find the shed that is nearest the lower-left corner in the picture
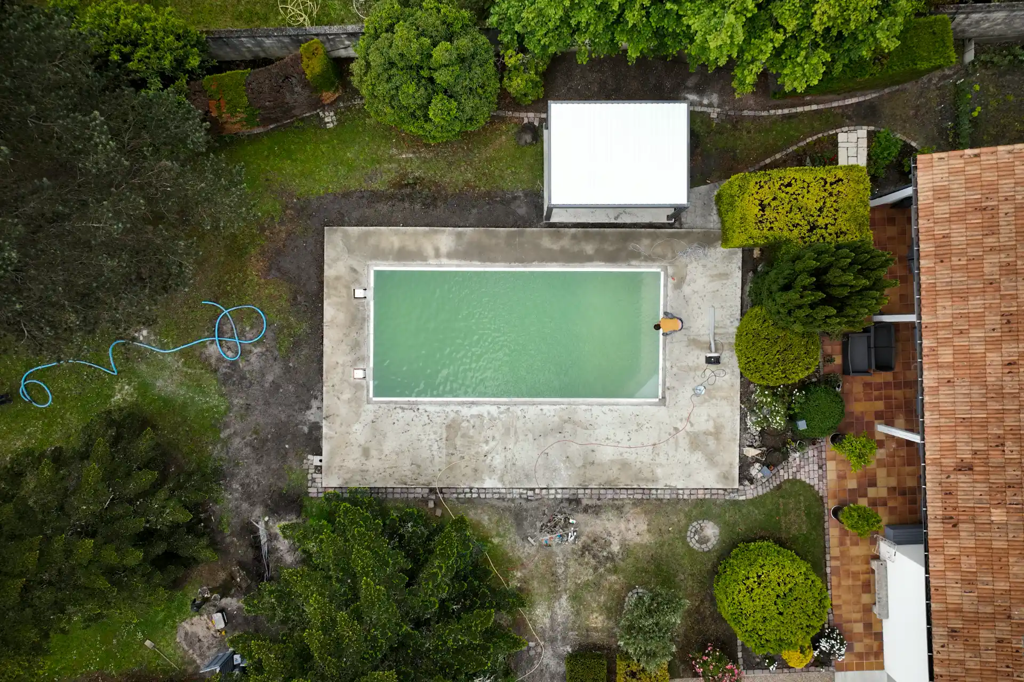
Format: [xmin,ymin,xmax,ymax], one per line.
[199,647,240,682]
